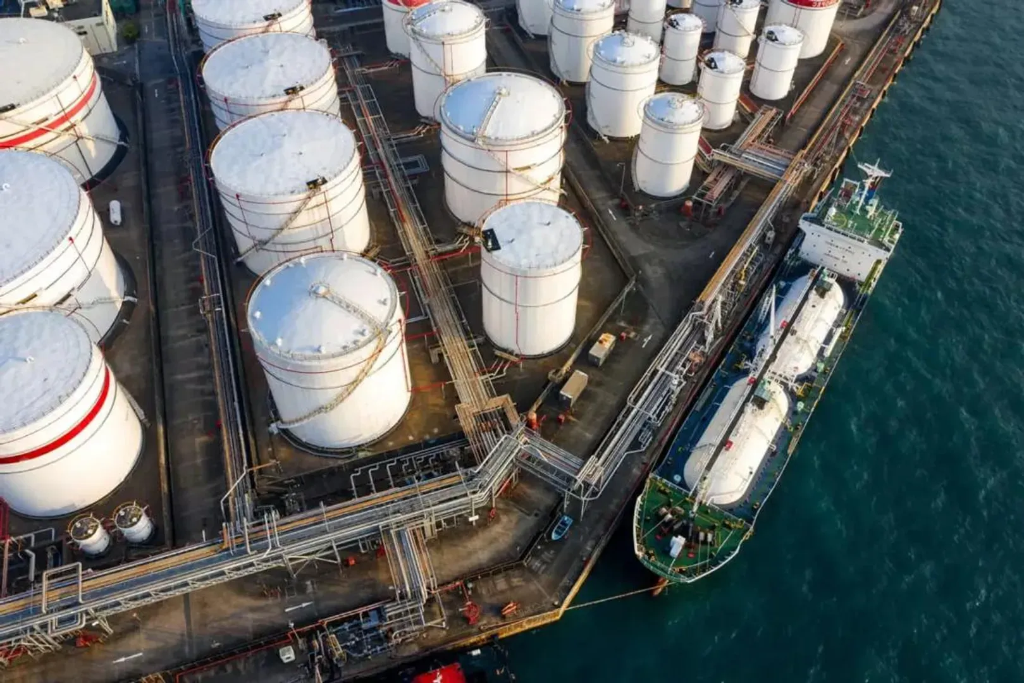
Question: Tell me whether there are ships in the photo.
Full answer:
Yes, a ship appears in the view.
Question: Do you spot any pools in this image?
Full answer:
No, there appears to be no pool in this shot.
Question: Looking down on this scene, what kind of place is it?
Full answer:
The picture captures an industrial area.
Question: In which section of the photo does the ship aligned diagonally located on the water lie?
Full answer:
You can find the ship aligned diagonally located on the water in the right area of the picture.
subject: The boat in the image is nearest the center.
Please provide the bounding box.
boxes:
[552,512,574,537]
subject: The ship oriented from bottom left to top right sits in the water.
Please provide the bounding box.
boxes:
[628,149,909,595]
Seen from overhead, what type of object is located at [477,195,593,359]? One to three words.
storage tank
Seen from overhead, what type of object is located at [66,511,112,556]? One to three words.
storage tank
